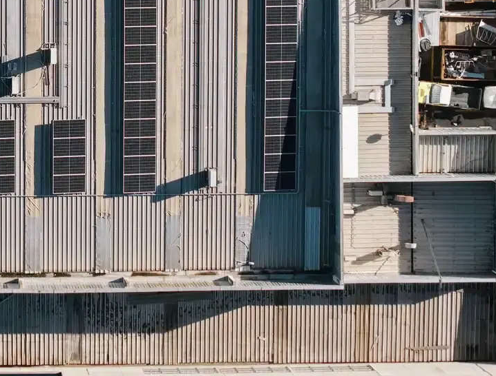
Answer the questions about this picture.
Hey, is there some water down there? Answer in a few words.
No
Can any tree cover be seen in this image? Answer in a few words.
No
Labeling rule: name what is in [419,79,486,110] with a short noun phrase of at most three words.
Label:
truck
